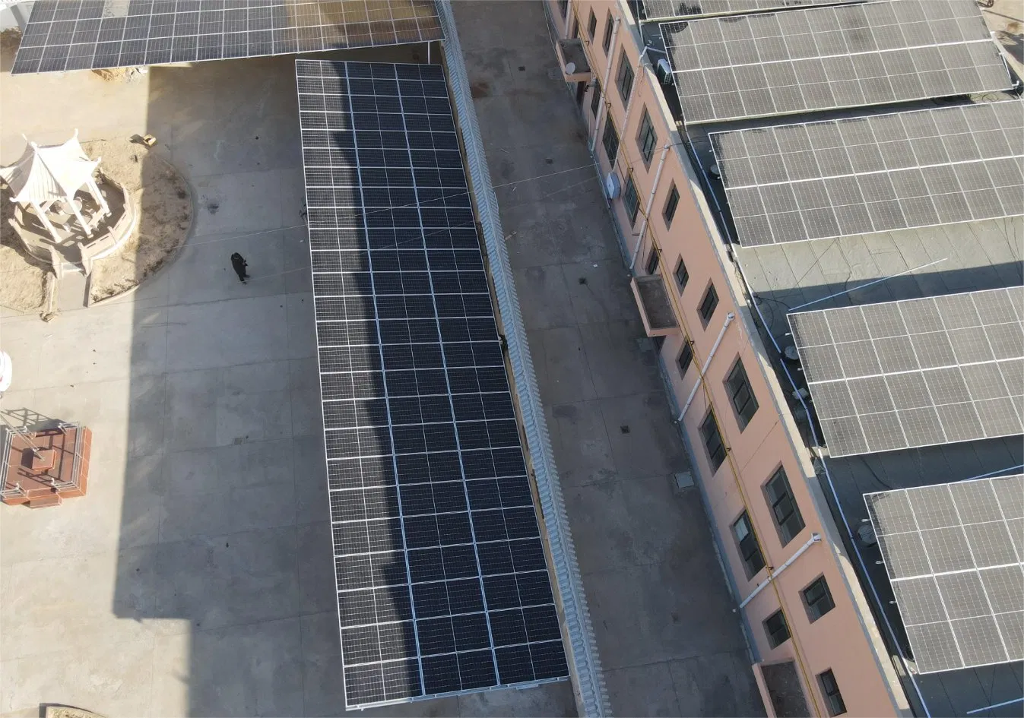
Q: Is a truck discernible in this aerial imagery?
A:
No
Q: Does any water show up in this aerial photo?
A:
No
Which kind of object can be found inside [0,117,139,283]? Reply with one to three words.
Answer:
building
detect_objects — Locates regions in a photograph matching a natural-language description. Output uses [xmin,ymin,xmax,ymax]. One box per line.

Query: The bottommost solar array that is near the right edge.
[852,473,1024,674]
